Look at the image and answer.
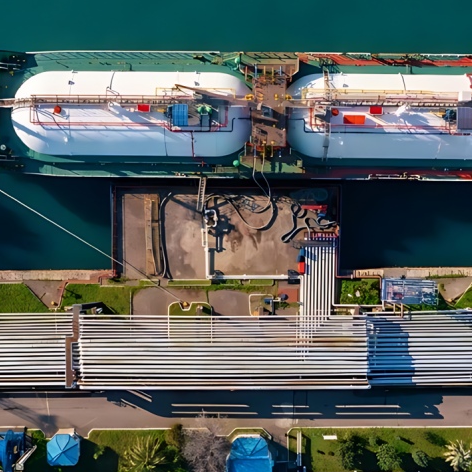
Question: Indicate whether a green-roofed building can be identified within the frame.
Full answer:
No, no green-roofed building can be seen from above.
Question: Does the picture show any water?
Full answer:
Yes, some water is visible.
